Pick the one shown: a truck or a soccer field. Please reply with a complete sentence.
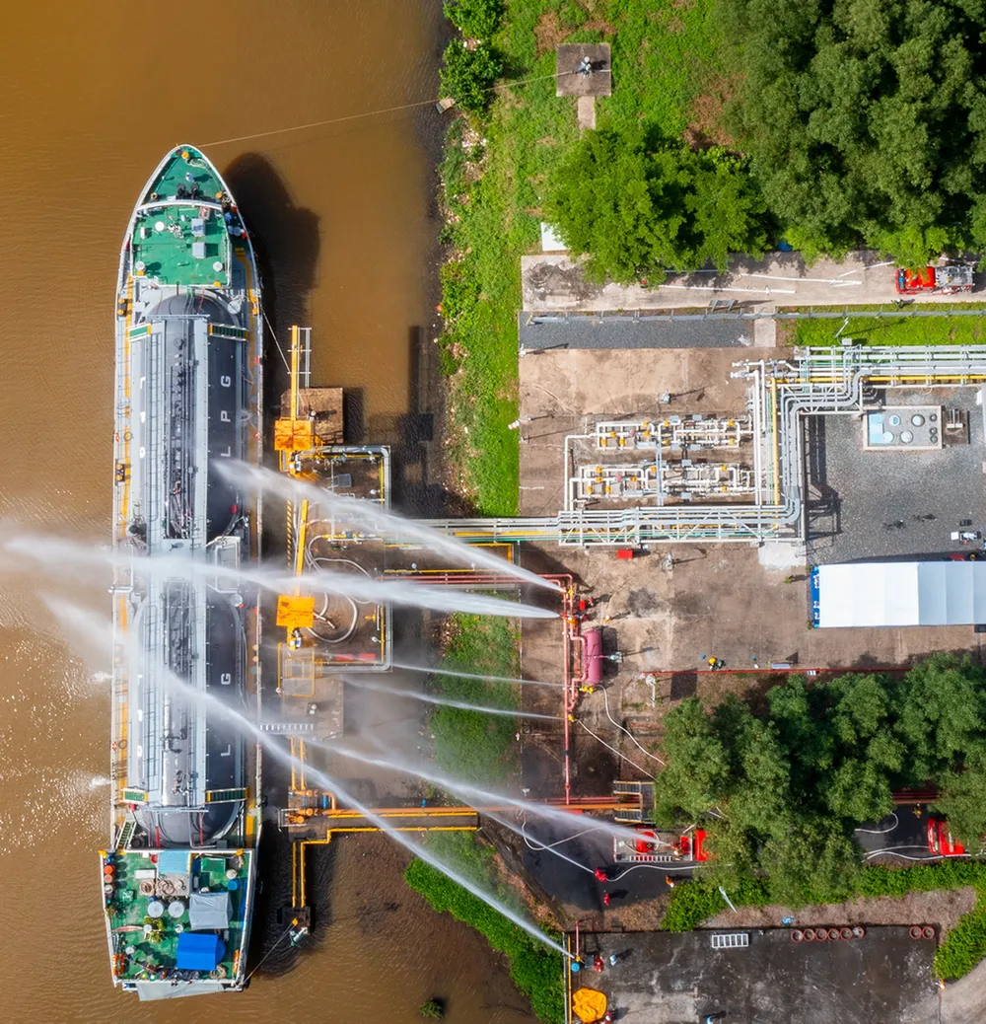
I can see a truck in this picture.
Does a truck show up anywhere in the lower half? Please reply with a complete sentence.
Yes, you'll find a truck in the lower half.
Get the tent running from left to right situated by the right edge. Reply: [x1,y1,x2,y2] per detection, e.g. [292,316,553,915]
[811,562,986,626]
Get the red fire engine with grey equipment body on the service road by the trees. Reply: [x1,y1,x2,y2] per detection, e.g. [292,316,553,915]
[891,264,986,293]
